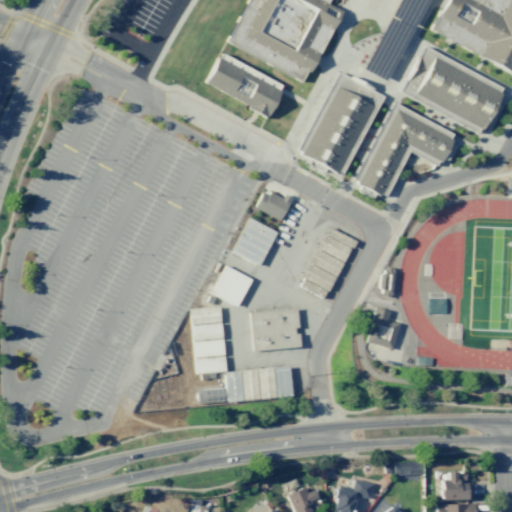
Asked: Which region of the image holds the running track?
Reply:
right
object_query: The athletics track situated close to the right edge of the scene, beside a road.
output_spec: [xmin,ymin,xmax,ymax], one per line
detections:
[395,194,512,375]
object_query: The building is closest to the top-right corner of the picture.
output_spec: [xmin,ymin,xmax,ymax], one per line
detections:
[429,0,512,75]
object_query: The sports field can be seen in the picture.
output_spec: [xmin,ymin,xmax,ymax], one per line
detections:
[466,220,512,350]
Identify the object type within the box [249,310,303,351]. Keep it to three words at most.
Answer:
building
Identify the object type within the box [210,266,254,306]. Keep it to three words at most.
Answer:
barn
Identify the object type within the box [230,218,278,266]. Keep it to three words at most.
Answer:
shed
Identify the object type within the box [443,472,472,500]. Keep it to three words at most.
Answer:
house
